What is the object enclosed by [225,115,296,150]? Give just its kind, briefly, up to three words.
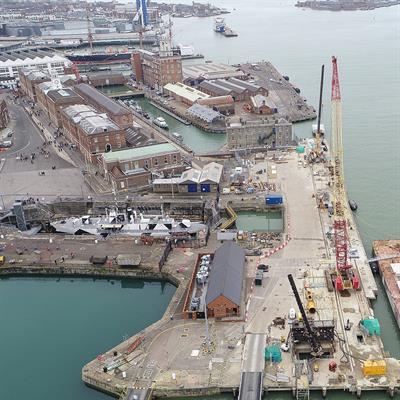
building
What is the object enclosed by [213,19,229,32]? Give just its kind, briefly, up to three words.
ship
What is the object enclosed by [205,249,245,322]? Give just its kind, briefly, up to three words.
building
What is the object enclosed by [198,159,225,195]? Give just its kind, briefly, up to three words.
shed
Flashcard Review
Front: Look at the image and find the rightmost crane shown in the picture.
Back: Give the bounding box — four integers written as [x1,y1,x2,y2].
[320,55,364,304]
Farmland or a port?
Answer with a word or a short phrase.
port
